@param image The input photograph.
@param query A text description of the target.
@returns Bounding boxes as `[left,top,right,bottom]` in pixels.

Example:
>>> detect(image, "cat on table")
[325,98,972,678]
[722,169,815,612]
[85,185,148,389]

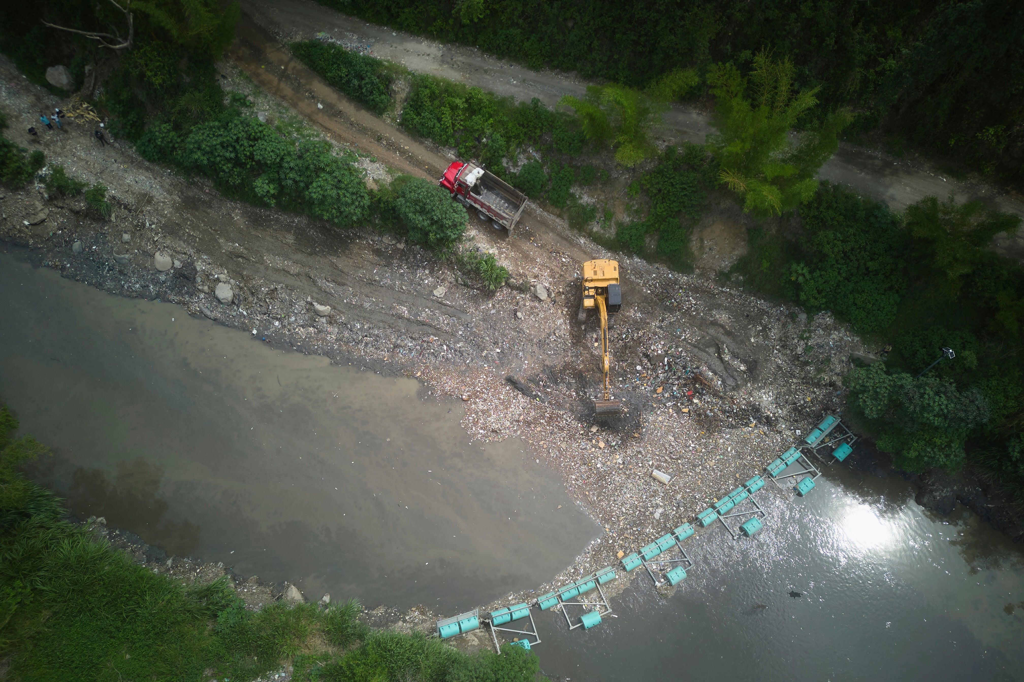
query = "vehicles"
[576,262,624,407]
[441,153,535,239]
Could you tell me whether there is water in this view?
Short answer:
Yes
